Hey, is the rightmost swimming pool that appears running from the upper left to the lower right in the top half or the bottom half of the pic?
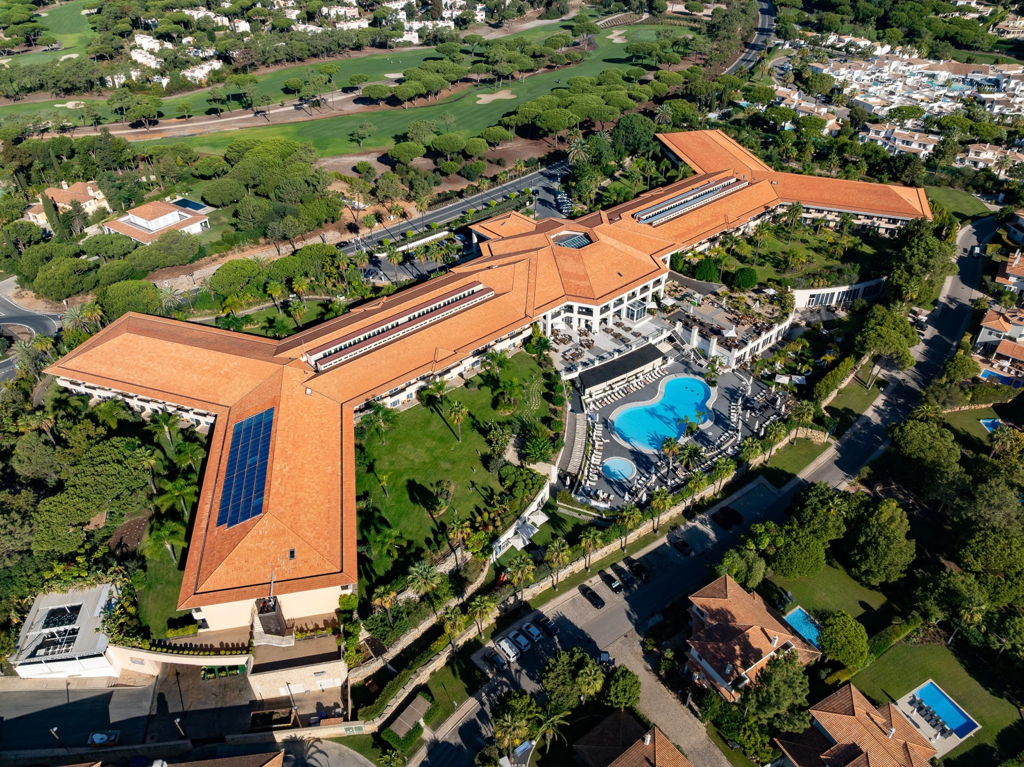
bottom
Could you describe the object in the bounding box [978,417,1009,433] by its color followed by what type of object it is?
blue swimming pool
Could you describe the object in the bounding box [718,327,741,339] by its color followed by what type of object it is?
white umbrella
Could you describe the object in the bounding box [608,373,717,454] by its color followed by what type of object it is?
blue swimming pool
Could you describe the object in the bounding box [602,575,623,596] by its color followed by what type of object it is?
black car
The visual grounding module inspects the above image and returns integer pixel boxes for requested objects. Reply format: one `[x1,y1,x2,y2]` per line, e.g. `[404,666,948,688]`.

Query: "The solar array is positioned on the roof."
[216,406,274,529]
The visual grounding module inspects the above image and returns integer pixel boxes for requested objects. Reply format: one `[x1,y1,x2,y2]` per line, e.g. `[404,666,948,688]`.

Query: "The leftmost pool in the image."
[168,195,214,213]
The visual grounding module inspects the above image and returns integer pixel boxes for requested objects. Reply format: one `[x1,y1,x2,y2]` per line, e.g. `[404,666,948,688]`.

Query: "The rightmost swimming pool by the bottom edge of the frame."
[911,677,985,743]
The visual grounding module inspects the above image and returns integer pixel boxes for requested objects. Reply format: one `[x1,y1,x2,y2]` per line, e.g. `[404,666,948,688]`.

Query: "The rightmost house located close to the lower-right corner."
[774,682,943,767]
